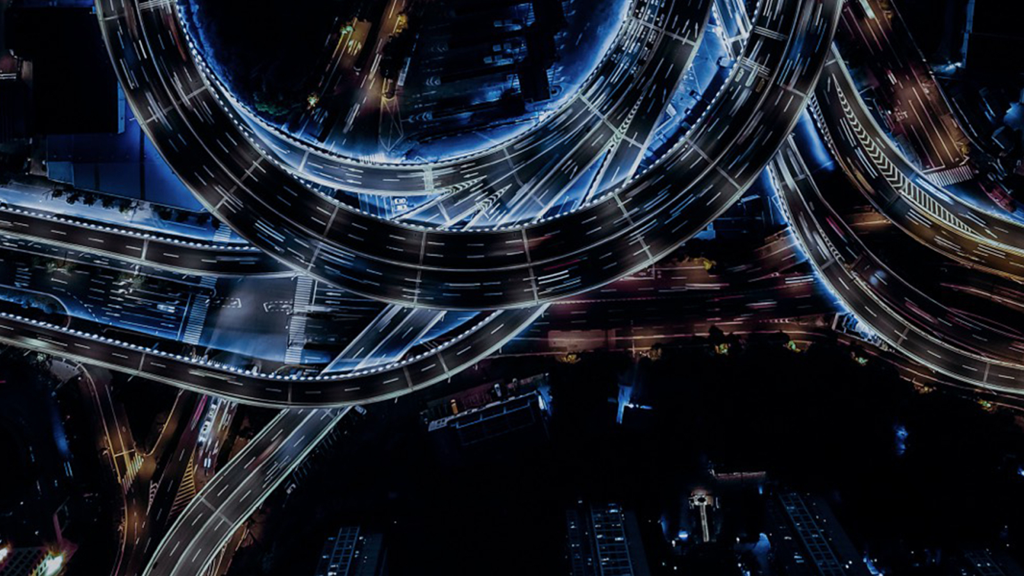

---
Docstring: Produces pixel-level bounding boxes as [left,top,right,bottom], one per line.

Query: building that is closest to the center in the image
[458,399,543,449]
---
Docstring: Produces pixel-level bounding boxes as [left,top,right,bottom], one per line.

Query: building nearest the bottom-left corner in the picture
[313,527,381,576]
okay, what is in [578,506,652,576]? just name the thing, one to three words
building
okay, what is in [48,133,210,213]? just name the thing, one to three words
building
